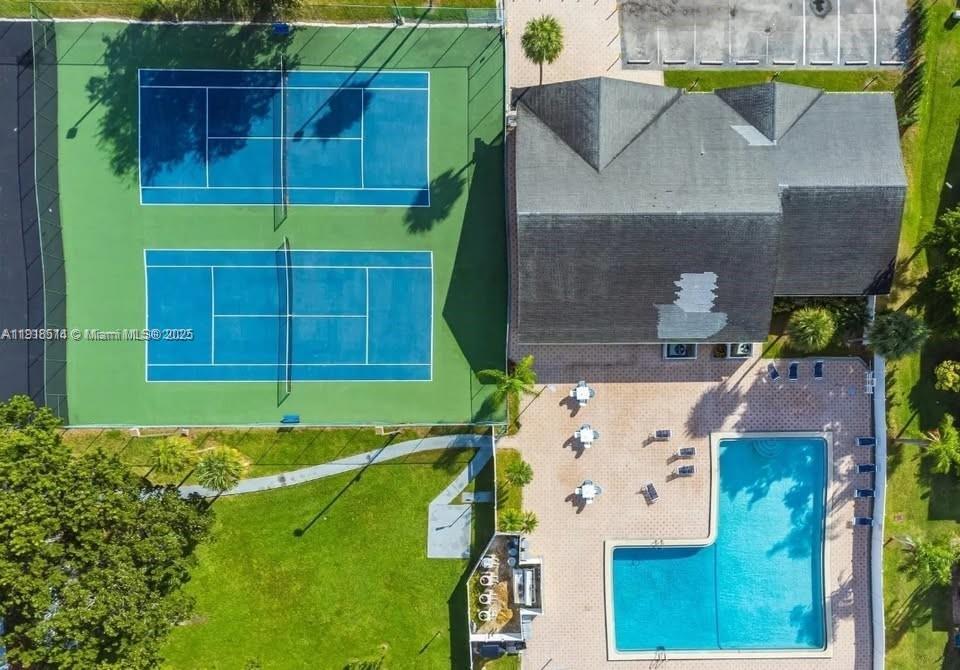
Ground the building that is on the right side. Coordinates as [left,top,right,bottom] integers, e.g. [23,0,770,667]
[511,78,908,345]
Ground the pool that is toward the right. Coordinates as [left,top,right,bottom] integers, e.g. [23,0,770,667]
[604,433,832,660]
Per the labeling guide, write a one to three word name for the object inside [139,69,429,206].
tennis court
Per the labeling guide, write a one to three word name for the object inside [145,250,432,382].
tennis court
